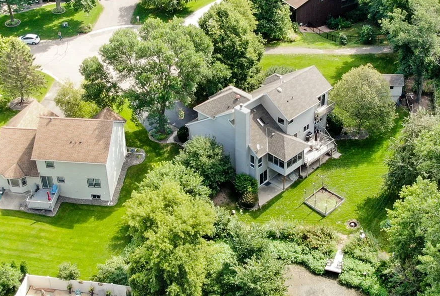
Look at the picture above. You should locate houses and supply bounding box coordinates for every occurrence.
[187,61,351,192]
[0,99,142,214]
[280,0,350,22]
